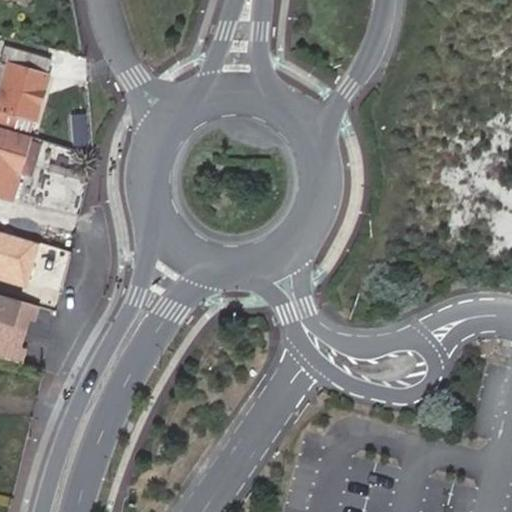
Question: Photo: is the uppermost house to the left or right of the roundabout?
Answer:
to the left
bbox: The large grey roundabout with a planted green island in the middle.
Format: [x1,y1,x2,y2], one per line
[126,68,344,296]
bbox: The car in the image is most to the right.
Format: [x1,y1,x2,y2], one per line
[370,474,394,488]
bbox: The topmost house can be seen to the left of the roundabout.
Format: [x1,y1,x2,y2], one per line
[0,43,51,134]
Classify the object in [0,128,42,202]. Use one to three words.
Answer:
house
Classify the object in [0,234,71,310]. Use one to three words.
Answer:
house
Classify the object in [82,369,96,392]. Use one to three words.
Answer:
car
